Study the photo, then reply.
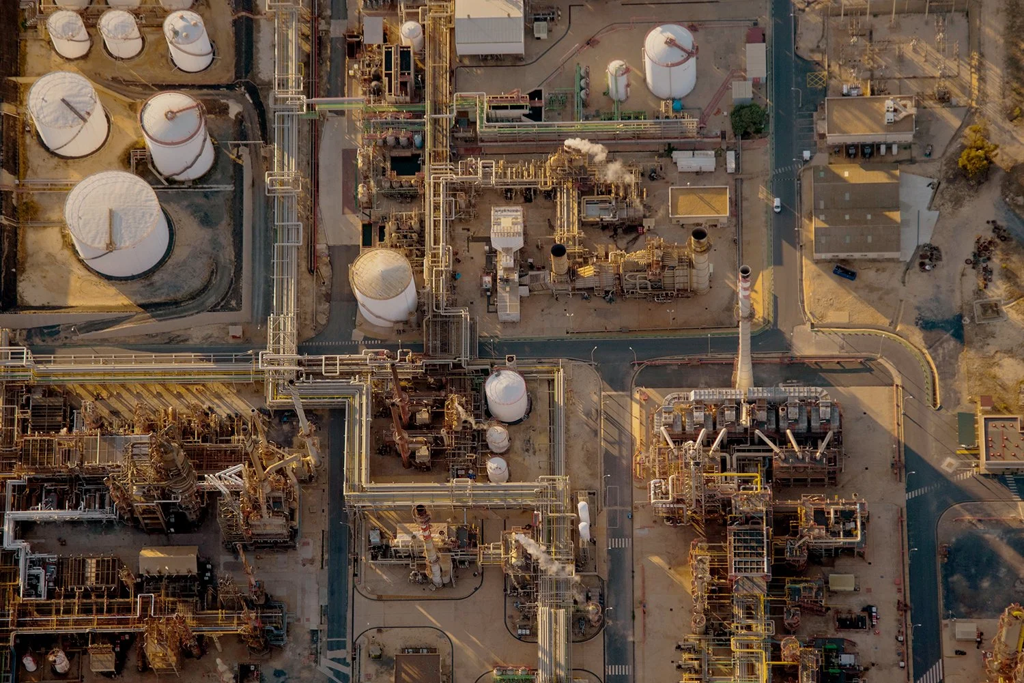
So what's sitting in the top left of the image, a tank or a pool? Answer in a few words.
tank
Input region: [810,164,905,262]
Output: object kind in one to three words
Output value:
building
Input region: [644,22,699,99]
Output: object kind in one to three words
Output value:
storage tank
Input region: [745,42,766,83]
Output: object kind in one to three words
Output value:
shed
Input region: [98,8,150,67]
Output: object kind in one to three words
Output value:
storage tank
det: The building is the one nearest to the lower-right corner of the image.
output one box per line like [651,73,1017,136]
[955,622,977,639]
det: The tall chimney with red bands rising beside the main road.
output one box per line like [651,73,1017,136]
[735,263,758,390]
